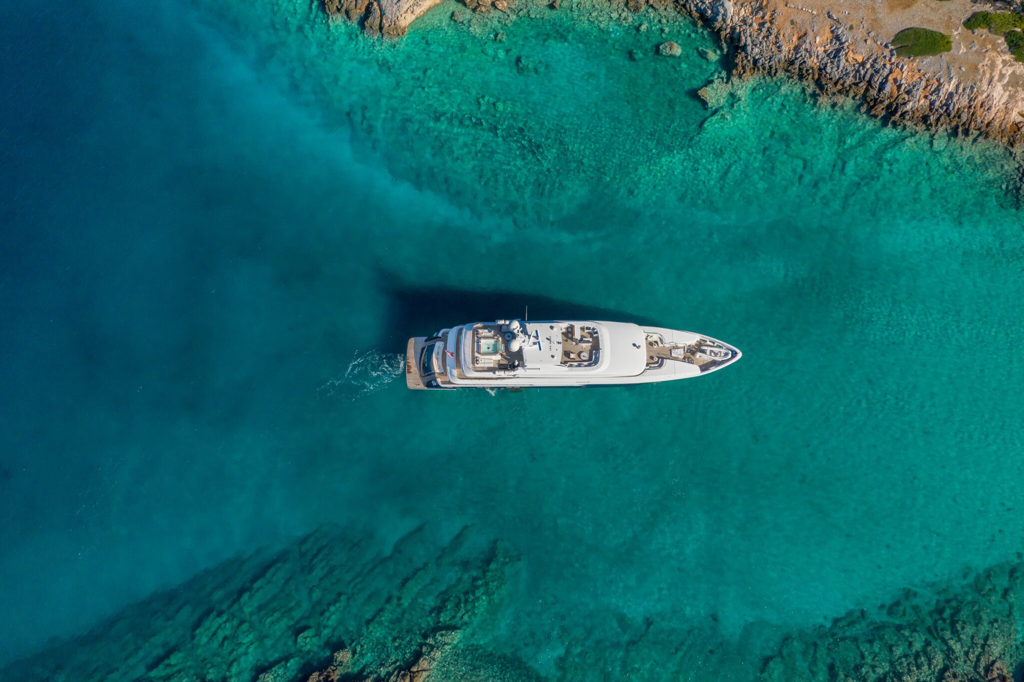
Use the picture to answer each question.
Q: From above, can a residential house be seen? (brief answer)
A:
No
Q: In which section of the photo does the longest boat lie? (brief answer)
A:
center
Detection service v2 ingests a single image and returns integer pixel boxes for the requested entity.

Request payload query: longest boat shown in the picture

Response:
[406,316,743,393]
